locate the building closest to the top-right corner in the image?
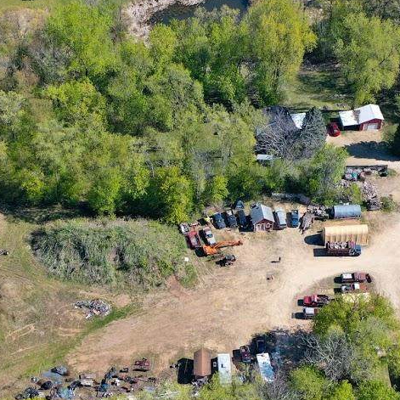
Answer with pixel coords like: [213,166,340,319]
[340,104,387,129]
